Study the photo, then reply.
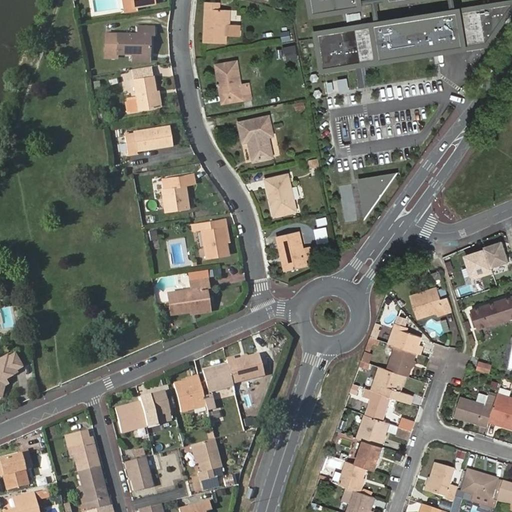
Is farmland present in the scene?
No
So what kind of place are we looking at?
residential area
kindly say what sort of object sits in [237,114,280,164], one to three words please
house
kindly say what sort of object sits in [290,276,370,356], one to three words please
roundabout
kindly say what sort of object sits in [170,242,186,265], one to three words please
swimming pool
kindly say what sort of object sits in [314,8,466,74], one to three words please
building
